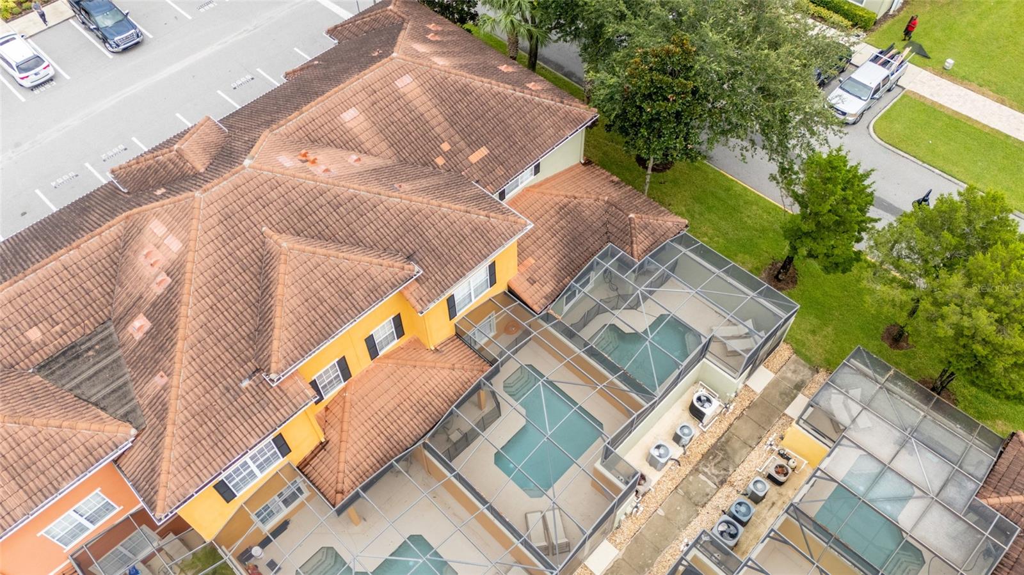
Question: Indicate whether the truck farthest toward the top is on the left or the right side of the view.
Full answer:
The truck farthest toward the top sits on the left side.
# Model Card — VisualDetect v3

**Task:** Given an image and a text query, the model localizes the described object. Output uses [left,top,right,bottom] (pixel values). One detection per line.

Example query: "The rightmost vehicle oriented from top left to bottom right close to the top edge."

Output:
[72,0,144,50]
